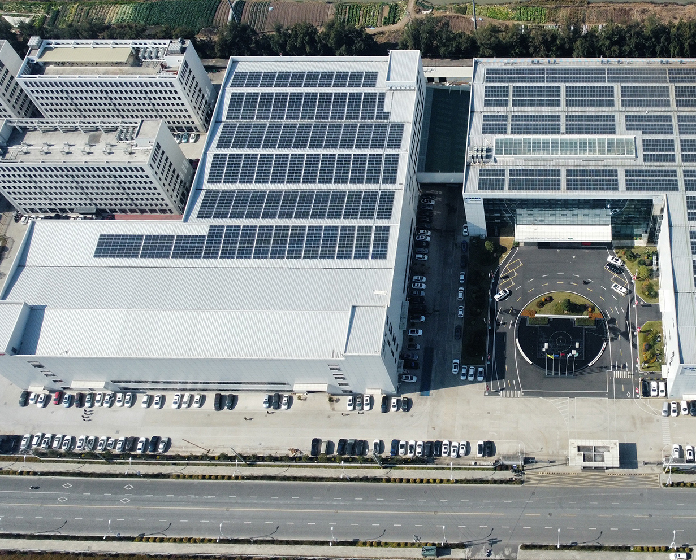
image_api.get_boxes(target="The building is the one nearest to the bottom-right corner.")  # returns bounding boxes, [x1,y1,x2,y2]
[569,439,619,470]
